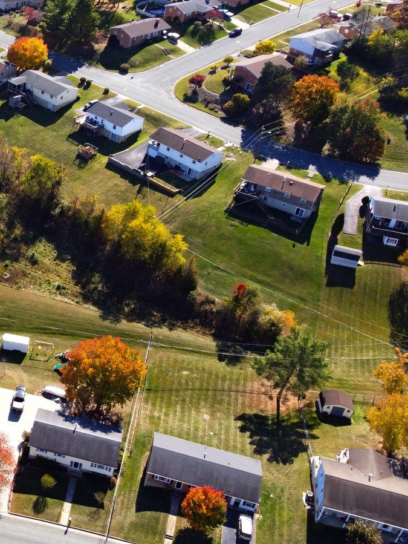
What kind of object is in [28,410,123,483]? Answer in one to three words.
house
